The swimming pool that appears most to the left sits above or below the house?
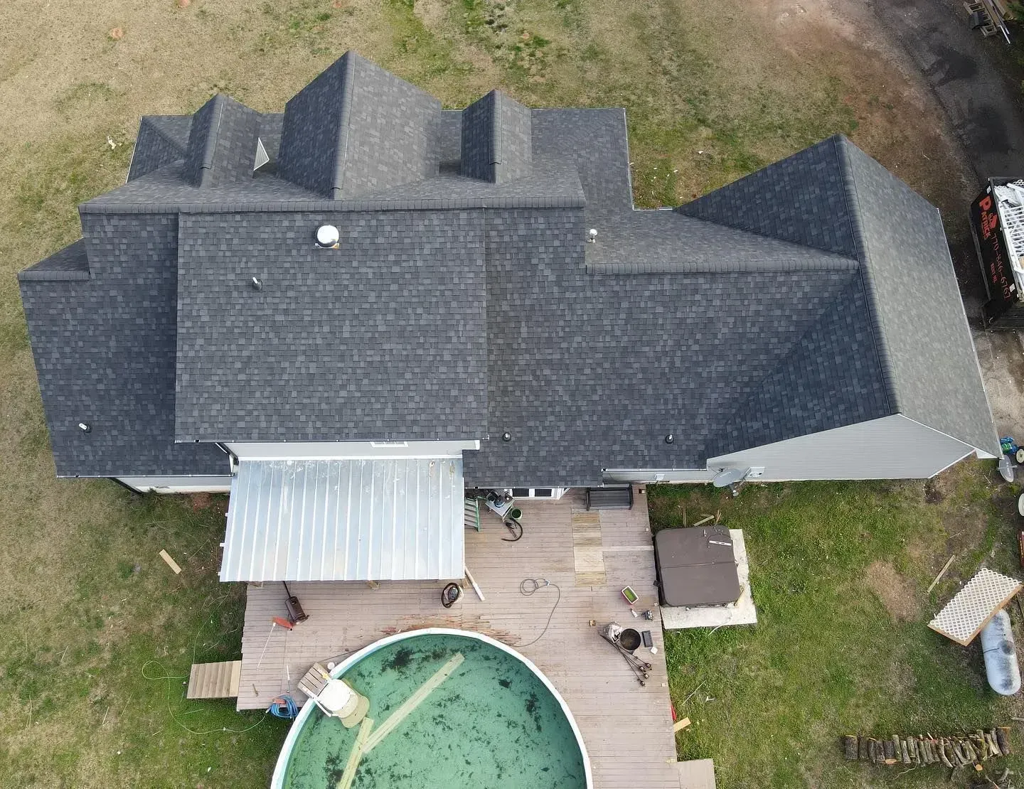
below it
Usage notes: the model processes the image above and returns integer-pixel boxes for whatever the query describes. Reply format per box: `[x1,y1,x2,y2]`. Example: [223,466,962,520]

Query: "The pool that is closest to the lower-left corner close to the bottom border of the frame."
[271,625,592,789]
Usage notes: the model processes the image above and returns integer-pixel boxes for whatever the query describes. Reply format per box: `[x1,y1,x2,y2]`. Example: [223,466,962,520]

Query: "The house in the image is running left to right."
[20,51,1004,505]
